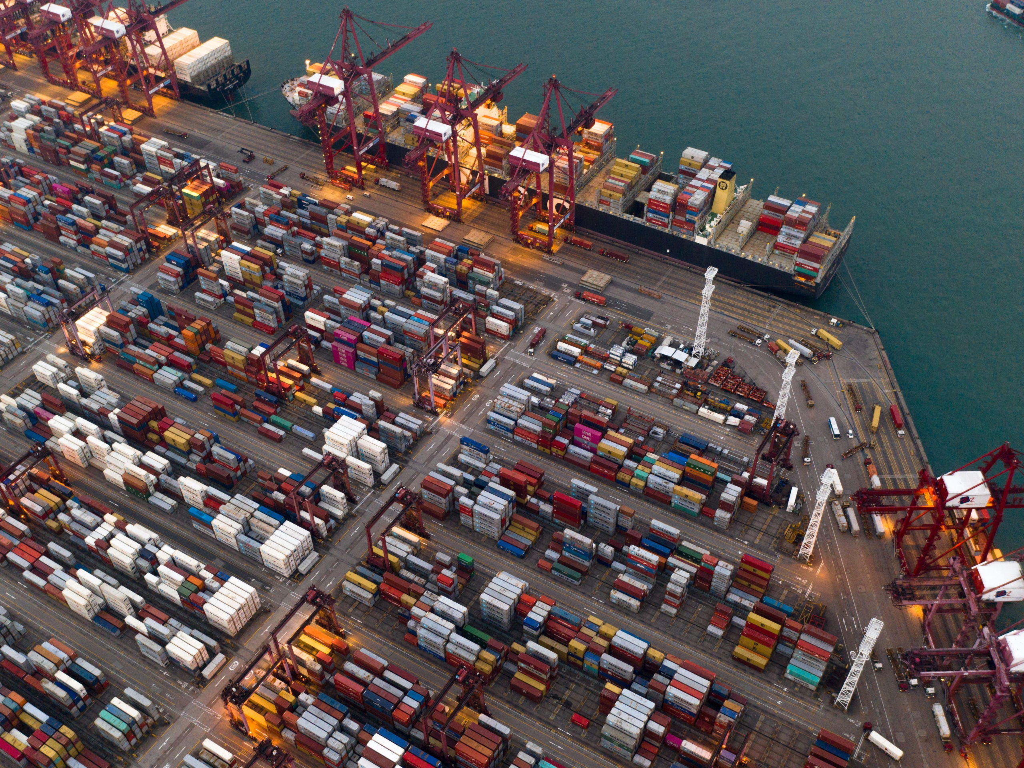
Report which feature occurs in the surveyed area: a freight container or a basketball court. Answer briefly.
freight container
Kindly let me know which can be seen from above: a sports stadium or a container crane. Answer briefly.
container crane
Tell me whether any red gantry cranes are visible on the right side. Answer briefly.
Yes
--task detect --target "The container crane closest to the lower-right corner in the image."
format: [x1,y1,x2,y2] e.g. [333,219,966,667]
[903,627,1024,754]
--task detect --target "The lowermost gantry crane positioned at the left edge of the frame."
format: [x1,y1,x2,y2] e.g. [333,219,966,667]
[0,436,75,523]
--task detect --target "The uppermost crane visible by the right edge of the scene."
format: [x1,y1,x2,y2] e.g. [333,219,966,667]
[849,445,1024,586]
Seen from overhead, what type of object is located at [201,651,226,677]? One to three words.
shipping container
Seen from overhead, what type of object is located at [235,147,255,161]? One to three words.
work vehicle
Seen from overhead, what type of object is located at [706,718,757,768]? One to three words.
container crane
